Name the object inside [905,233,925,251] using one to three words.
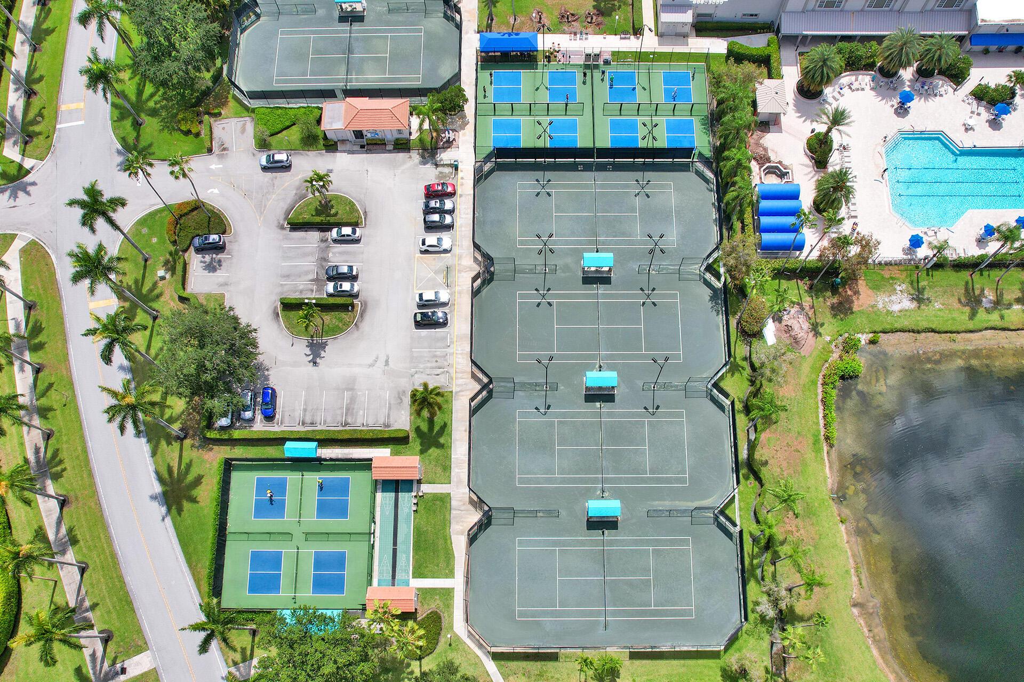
umbrella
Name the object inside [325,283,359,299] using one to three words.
car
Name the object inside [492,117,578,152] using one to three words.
sports court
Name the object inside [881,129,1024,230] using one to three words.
swimming pool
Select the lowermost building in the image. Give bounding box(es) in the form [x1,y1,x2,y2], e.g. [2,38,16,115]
[365,587,420,612]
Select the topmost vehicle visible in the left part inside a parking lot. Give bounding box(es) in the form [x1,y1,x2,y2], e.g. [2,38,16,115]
[259,155,289,170]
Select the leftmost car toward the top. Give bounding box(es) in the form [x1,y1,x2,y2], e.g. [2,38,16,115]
[192,237,225,252]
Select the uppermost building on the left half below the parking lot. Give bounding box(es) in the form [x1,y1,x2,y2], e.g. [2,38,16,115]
[371,456,424,481]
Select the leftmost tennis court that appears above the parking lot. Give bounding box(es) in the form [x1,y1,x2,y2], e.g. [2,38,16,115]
[236,0,458,106]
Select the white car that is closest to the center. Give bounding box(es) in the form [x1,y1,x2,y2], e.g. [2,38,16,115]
[415,292,450,307]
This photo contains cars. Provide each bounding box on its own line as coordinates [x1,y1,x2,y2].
[422,200,454,215]
[424,183,455,199]
[415,292,450,307]
[192,237,225,252]
[325,267,358,282]
[418,237,452,252]
[423,214,453,230]
[259,155,289,170]
[215,410,231,427]
[325,283,359,299]
[414,312,447,328]
[258,389,276,419]
[238,391,255,421]
[330,229,361,244]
